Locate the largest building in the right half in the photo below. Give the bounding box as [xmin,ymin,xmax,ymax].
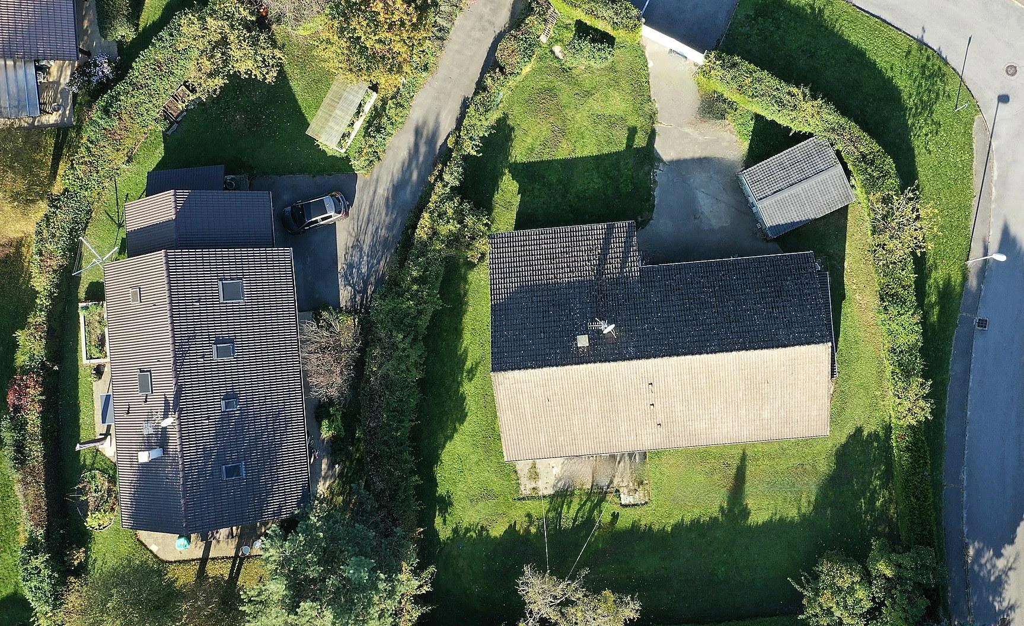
[489,220,831,463]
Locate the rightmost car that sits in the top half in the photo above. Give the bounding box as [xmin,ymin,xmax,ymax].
[282,192,347,232]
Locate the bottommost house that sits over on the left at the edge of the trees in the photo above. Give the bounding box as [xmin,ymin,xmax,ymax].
[102,248,318,534]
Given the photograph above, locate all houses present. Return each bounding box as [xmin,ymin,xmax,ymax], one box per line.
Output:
[0,0,91,69]
[102,248,318,534]
[489,220,831,463]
